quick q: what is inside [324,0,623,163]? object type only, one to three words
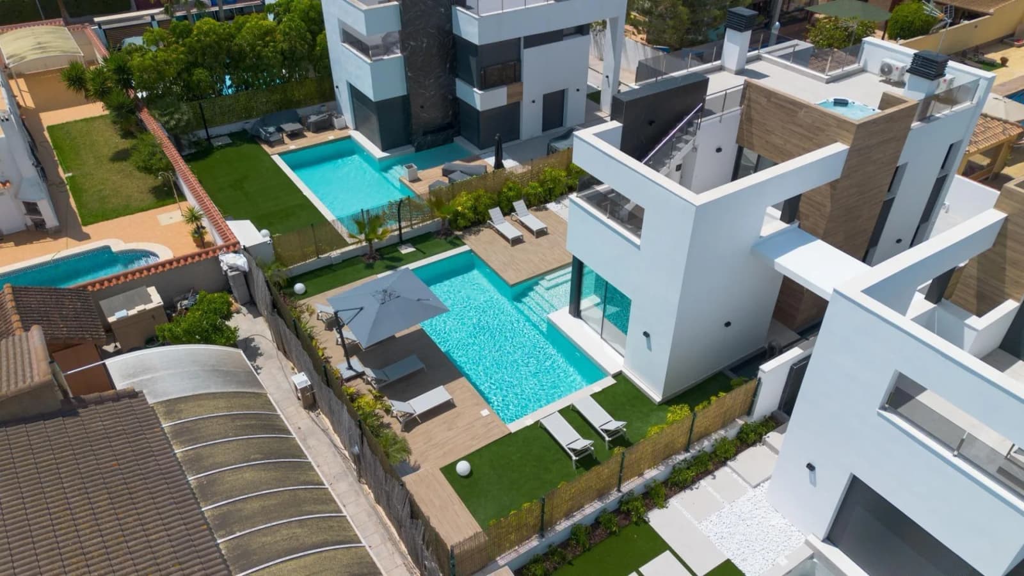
house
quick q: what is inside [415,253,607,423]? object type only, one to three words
swimming pool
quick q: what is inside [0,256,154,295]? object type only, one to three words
swimming pool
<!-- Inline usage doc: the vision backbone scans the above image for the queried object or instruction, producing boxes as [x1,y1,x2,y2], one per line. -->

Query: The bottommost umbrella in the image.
[326,268,455,375]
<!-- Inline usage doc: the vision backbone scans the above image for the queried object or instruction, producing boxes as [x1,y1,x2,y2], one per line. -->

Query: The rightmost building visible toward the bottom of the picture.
[759,173,1024,576]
